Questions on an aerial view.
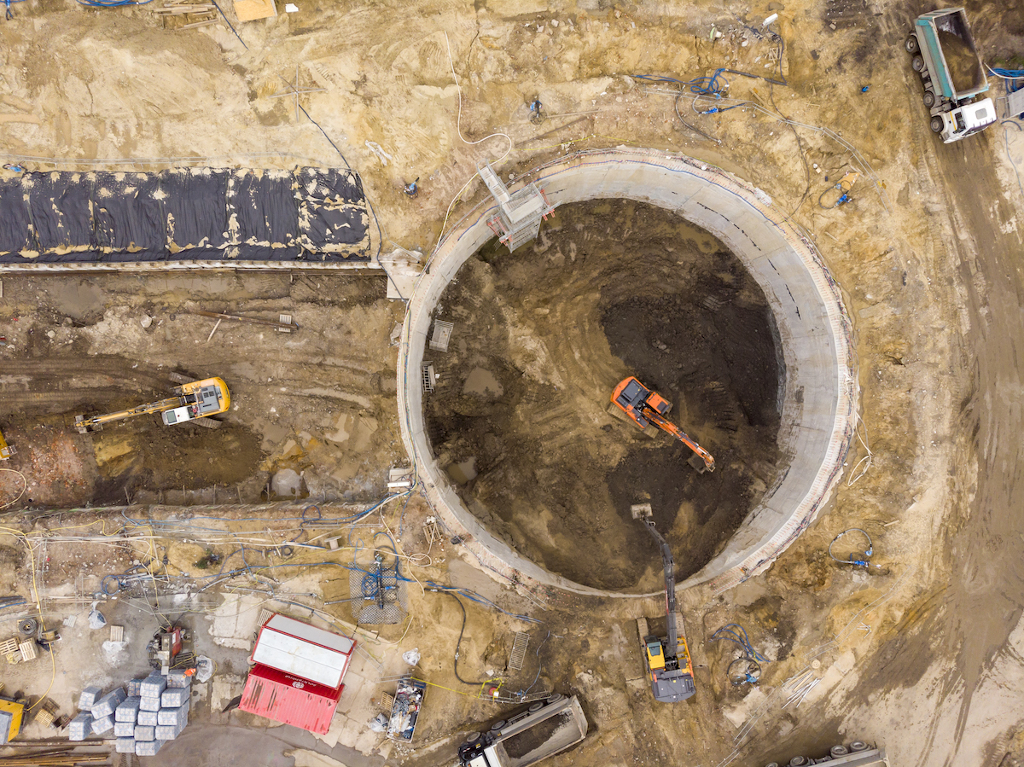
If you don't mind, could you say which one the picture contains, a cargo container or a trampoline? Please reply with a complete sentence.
There is a cargo container in the scene.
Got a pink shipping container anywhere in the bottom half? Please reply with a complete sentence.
Yes, a pink shipping container appears in the bottom half.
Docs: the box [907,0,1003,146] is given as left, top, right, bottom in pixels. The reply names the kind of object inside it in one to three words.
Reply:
truck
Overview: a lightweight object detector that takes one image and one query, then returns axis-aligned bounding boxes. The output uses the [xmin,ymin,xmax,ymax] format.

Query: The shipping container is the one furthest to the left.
[239,663,346,736]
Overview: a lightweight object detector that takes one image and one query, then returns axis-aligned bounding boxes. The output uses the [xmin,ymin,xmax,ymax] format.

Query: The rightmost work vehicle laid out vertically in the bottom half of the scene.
[630,499,699,709]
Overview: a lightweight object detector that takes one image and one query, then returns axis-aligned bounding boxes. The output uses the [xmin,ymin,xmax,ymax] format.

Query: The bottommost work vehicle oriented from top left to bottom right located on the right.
[609,378,724,478]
